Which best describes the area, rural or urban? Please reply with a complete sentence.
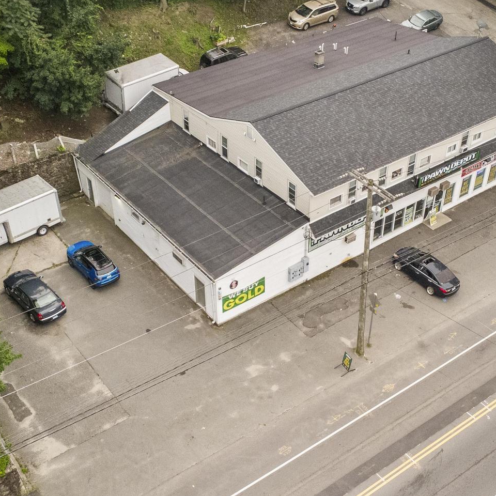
The area is urban.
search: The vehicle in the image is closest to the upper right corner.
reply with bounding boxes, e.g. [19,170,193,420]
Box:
[397,7,448,31]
